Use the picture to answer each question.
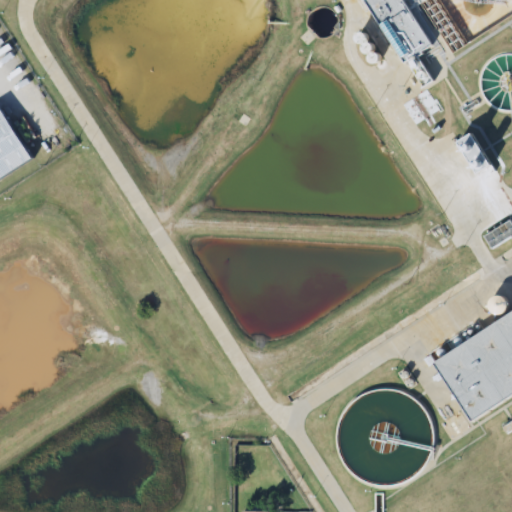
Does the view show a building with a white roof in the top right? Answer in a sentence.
Yes, you'll find a building with a white roof in the top right.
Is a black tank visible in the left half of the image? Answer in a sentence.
No, looking in the left half of the image, there is no black tank.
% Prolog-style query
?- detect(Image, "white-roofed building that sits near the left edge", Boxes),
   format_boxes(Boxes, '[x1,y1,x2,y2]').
[0,108,32,179]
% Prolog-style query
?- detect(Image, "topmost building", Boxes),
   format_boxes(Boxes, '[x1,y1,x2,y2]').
[362,0,432,58]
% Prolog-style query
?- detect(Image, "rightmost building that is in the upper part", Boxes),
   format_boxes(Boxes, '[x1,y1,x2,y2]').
[453,132,497,176]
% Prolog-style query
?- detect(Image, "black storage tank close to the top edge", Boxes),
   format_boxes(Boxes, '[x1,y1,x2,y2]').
[306,6,346,38]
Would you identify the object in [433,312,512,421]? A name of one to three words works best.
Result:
building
